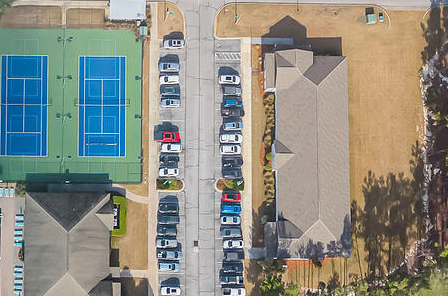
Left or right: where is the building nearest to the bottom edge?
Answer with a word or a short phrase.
left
